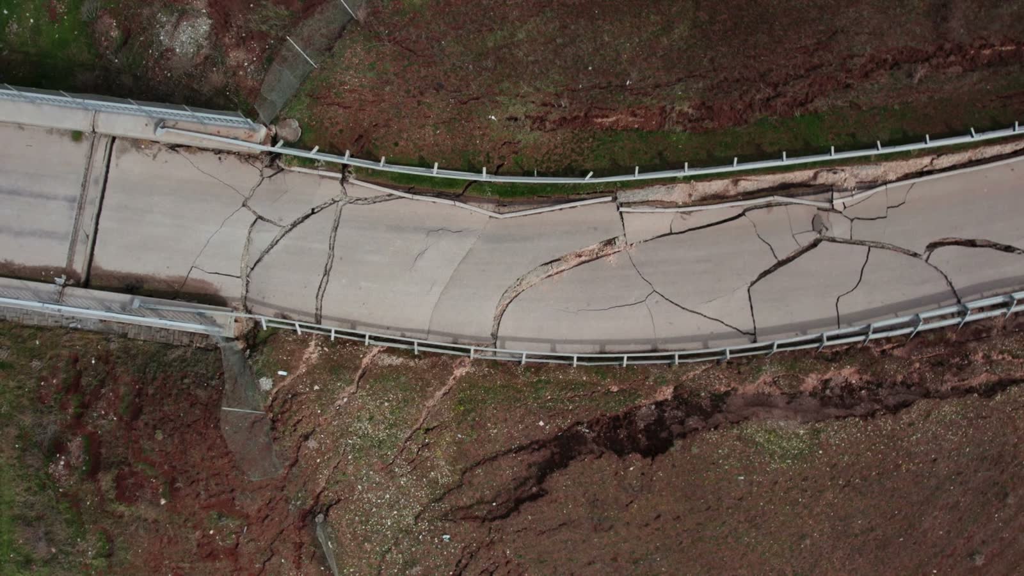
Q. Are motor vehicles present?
No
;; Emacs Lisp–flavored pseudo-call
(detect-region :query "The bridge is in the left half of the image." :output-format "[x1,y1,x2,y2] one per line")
[0,96,279,337]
